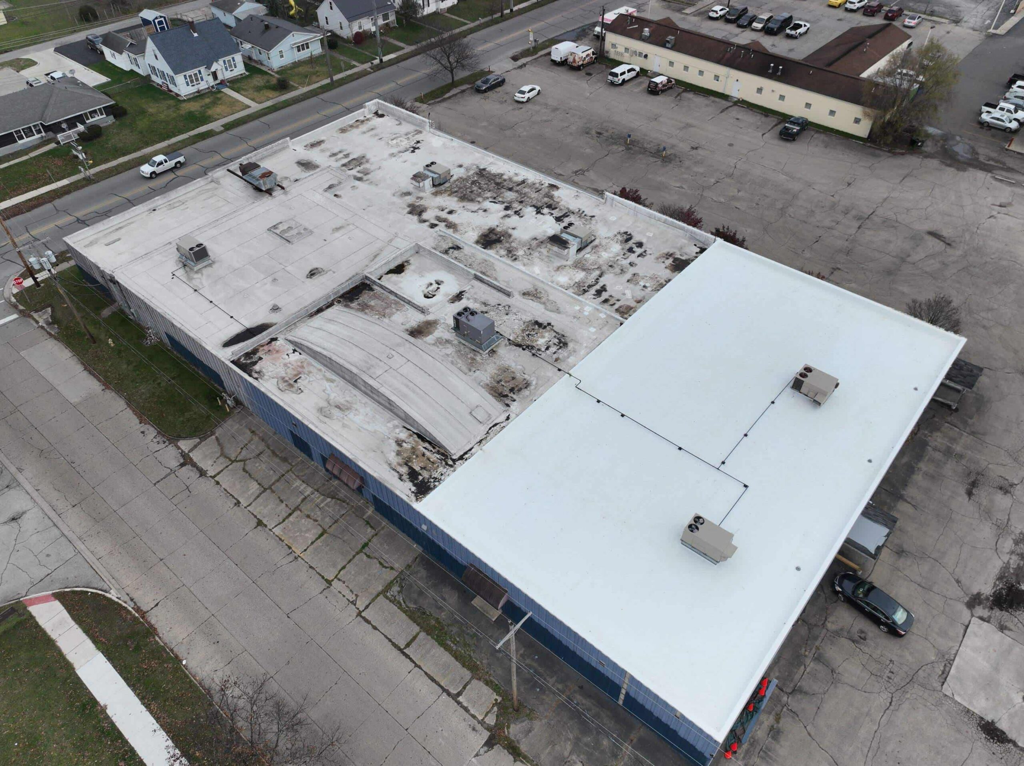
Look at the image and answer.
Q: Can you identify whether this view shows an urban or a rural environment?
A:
urban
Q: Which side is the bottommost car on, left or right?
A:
right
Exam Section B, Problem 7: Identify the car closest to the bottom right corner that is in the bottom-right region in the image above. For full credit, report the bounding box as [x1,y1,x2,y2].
[826,566,923,642]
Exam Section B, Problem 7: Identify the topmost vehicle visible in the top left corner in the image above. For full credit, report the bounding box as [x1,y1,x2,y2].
[85,35,104,53]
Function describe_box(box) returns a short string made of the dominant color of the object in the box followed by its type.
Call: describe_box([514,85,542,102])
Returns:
white car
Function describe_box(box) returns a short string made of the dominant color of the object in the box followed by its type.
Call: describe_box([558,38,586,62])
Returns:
white vehicle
